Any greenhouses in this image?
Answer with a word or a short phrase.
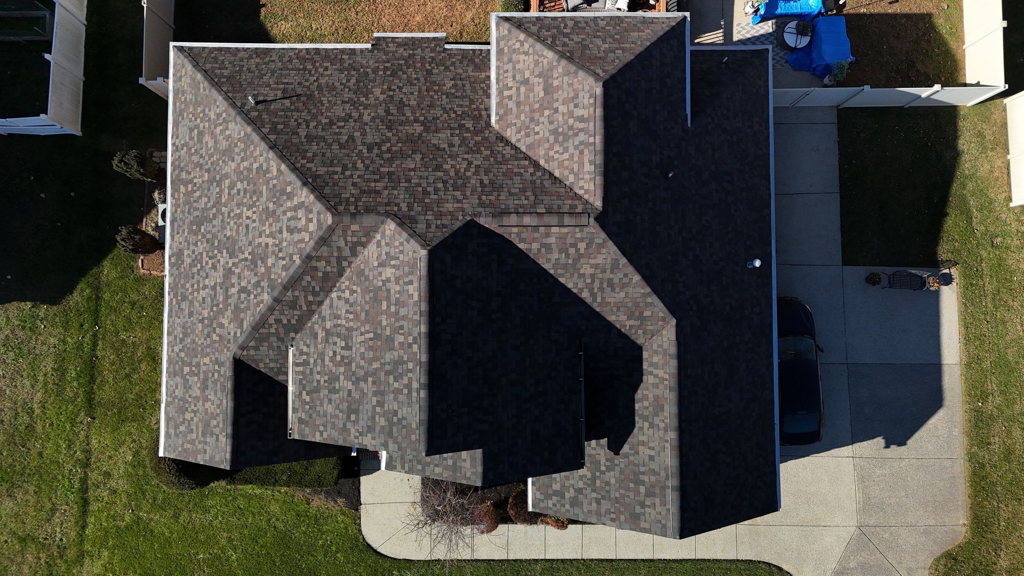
No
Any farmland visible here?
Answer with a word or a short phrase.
No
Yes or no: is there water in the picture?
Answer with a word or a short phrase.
No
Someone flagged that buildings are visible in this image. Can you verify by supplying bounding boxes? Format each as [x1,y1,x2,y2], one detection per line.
[158,10,782,539]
